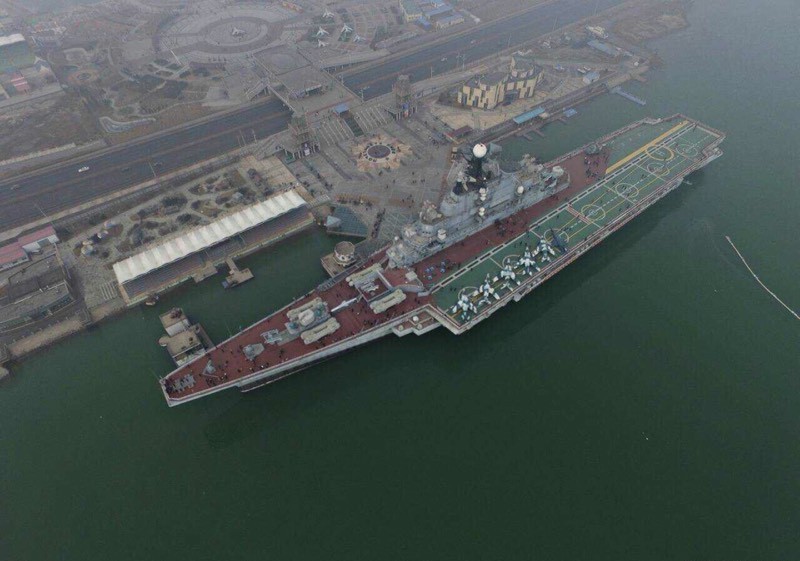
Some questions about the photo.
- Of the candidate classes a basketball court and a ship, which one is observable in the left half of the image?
ship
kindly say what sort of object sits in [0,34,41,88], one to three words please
building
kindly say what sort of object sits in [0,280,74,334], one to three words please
building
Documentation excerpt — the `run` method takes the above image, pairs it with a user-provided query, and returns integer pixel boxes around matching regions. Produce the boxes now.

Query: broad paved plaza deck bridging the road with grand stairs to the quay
[245,43,392,146]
